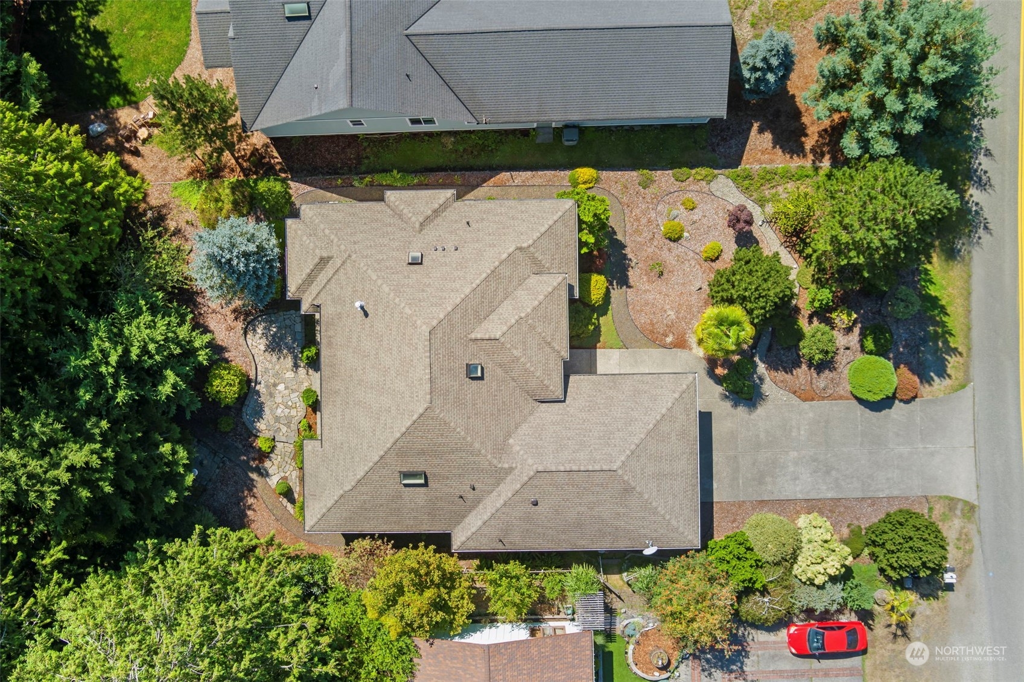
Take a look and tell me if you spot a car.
Yes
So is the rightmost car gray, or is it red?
red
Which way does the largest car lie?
from left to right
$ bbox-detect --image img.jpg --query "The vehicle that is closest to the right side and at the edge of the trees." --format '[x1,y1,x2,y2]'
[785,619,869,660]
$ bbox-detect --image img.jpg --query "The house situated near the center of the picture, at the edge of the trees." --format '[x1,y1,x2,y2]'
[284,188,702,554]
